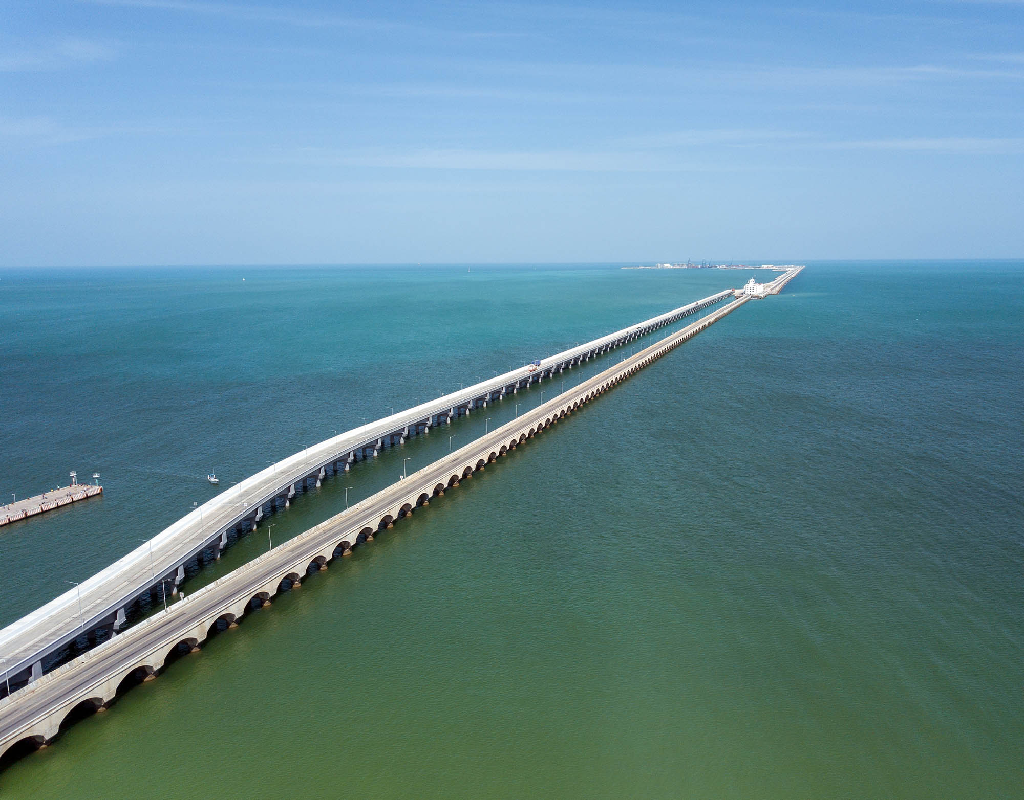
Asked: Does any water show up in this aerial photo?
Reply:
Yes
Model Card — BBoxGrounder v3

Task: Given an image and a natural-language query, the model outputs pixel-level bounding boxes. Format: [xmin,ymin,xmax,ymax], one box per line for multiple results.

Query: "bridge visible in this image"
[0,294,750,752]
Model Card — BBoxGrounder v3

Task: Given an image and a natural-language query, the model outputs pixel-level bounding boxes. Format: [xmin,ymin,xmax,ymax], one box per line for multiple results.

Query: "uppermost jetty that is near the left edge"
[0,484,102,527]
